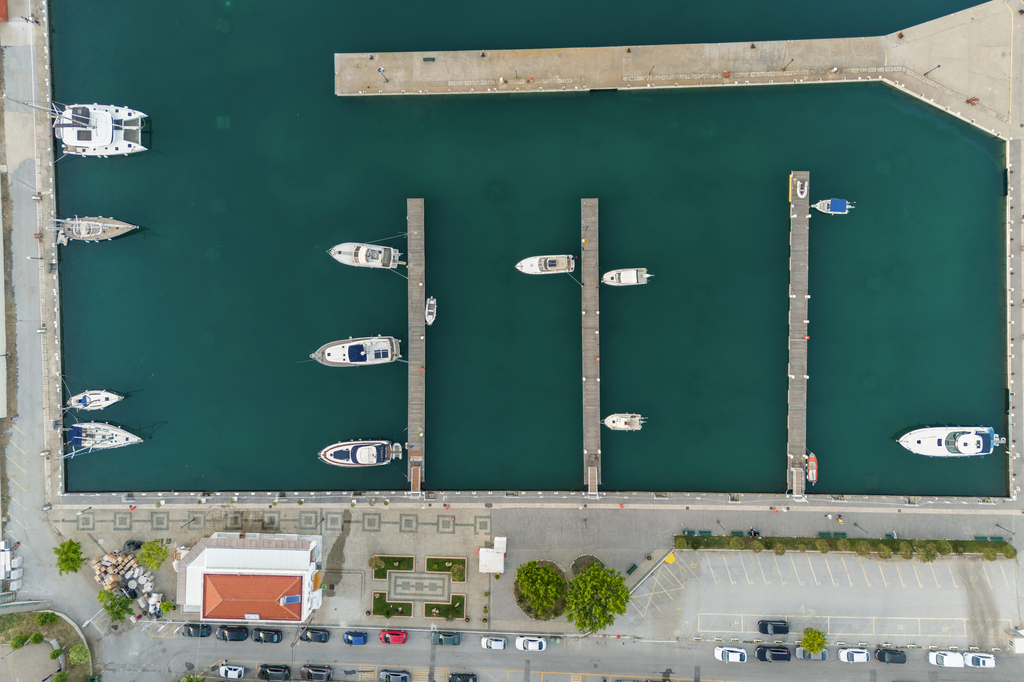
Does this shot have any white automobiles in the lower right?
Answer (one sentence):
Yes, a white automobile shows up in the lower right.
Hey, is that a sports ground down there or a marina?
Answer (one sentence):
What you see here is a marina.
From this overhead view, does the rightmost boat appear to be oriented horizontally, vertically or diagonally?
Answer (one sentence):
In this picture, the rightmost boat is oriented horizontally.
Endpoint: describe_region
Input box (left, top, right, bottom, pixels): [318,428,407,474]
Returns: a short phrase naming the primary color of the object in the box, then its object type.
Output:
white boat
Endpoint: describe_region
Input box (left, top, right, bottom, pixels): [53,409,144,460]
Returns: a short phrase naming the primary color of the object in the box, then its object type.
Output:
white boat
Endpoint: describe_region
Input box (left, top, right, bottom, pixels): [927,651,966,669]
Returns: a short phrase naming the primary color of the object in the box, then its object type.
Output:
white vehicle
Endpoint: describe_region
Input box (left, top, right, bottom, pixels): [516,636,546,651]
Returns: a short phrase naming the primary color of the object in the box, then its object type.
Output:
white car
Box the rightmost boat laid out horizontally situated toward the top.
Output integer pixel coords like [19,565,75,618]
[806,198,856,215]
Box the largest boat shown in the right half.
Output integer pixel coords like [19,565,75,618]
[895,414,1008,459]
